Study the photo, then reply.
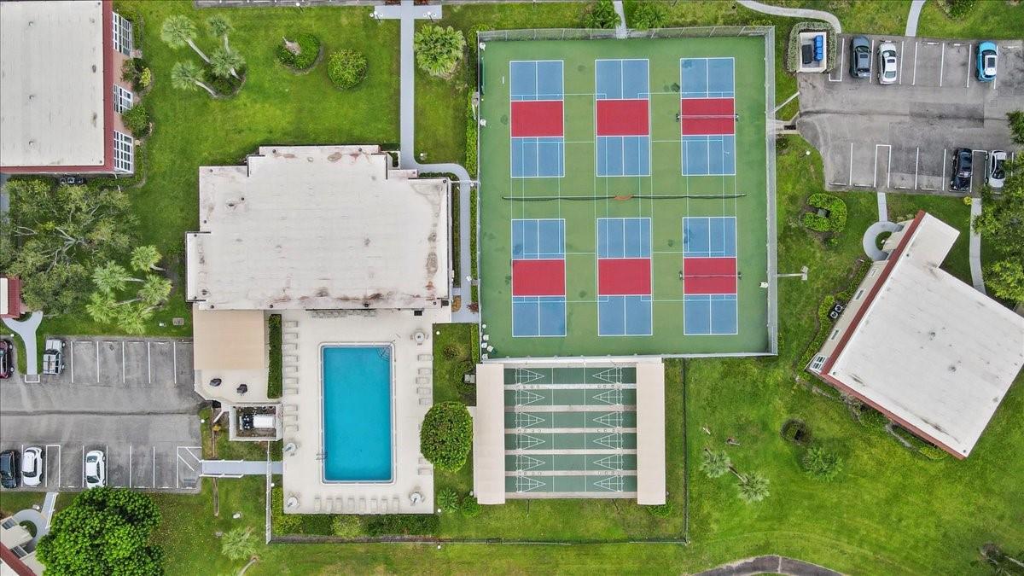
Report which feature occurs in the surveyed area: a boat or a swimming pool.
swimming pool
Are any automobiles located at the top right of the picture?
Yes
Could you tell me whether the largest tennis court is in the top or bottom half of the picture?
top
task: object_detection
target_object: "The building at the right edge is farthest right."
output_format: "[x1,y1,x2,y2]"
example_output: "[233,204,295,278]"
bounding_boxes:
[807,209,1024,460]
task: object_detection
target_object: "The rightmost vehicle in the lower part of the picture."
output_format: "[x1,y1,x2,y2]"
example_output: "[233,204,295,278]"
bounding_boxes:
[84,450,106,490]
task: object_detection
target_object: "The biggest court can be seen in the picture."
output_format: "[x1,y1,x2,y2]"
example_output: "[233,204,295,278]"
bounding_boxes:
[480,37,769,358]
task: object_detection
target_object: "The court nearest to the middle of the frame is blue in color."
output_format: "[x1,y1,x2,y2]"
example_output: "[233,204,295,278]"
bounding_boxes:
[511,219,566,337]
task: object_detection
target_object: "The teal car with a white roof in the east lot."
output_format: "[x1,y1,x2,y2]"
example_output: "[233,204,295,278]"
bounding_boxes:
[974,42,999,82]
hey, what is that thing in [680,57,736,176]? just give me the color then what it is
blue sports court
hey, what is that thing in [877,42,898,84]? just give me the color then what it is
white car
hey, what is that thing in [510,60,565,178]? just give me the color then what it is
blue sports court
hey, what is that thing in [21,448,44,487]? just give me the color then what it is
white car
